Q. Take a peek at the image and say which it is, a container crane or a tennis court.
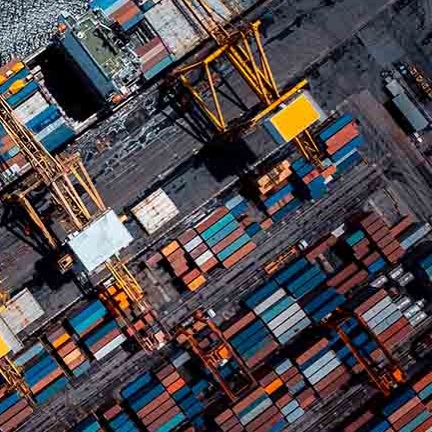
container crane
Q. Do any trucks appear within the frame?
Yes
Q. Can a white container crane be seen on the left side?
Yes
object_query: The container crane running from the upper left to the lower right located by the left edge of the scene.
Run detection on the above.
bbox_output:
[0,83,152,311]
